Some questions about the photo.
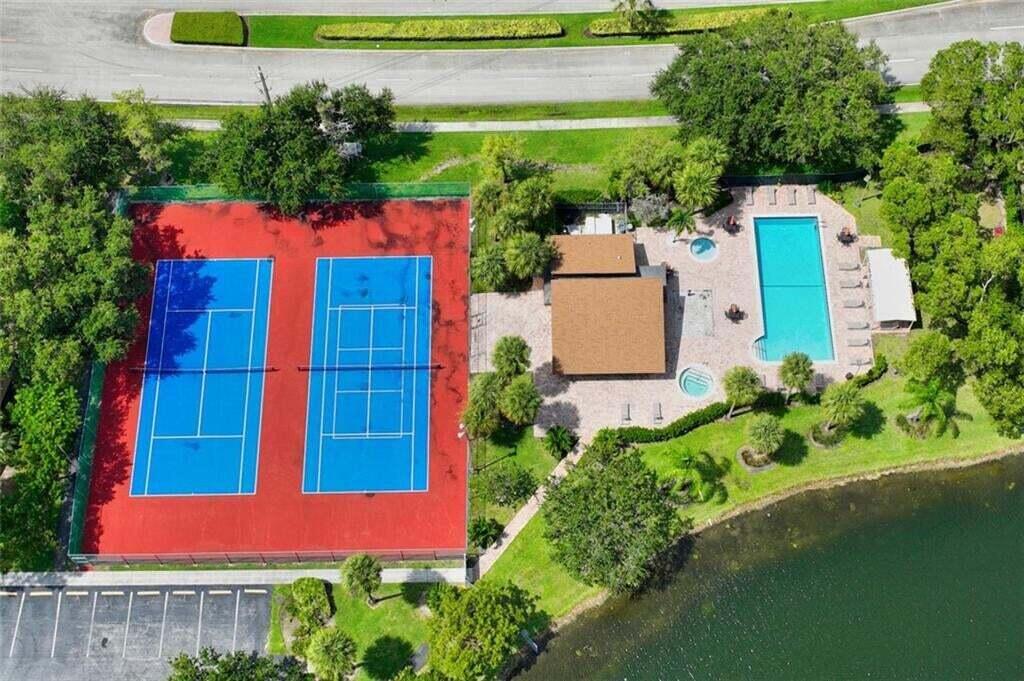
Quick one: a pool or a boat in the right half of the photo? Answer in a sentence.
Looking in the right half of the photo, you will find a pool.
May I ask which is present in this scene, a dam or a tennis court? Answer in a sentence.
There is a tennis court in the scene.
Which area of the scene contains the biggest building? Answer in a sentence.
The biggest building appears toward the center of the photo.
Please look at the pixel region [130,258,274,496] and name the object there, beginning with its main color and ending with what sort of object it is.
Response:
blue tennis court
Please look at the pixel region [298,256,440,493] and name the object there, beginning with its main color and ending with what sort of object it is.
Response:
blue tennis court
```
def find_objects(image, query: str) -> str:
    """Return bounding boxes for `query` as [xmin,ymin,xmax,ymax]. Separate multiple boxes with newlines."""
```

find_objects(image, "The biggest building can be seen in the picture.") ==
[541,234,666,380]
